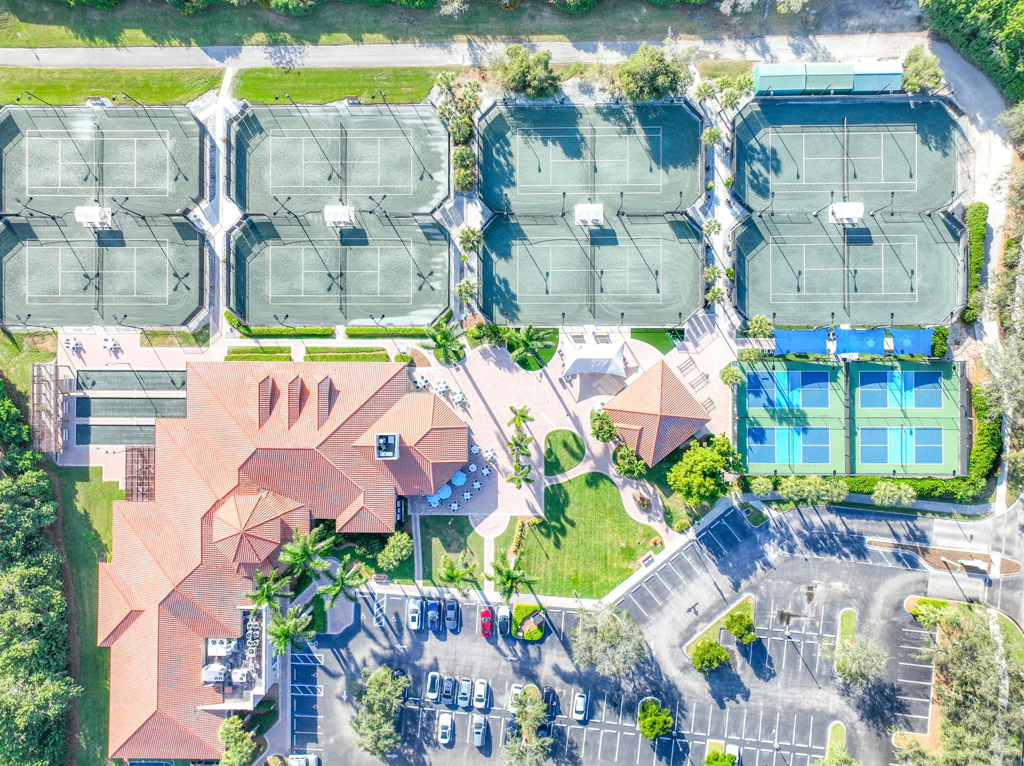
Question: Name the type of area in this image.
sports ground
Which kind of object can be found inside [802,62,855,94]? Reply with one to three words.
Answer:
shed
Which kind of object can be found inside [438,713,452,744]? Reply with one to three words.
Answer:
car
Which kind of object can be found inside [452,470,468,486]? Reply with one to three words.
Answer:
umbrella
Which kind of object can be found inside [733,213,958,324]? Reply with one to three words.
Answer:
tennis court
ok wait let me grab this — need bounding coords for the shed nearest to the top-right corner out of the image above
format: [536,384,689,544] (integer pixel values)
[848,62,904,94]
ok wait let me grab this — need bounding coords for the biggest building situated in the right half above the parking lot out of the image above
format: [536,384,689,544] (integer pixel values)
[603,359,711,469]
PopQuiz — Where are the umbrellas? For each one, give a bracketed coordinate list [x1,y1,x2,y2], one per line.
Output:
[438,483,453,499]
[452,470,468,486]
[428,493,443,507]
